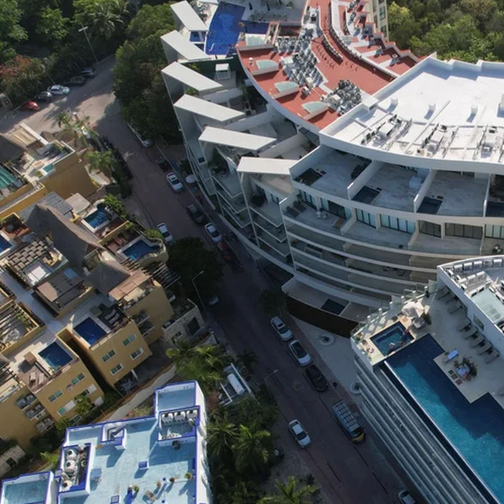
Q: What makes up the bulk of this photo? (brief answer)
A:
buildings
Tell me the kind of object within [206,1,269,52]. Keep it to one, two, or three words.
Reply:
swimming pool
